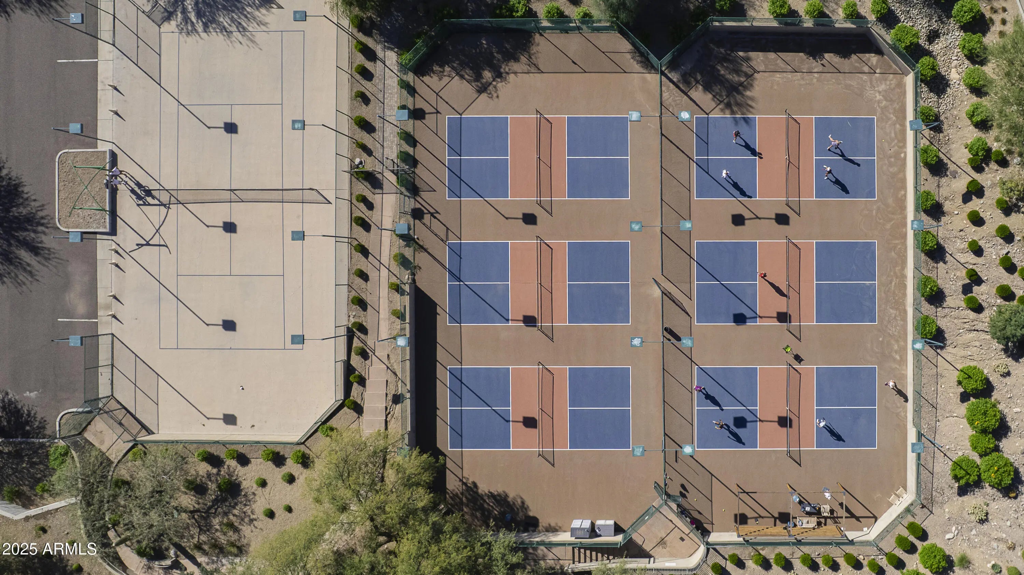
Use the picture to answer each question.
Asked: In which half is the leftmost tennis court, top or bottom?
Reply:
top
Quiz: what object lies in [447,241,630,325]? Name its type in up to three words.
sports court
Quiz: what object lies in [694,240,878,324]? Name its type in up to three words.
sports court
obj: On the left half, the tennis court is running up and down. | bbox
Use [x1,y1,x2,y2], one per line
[159,31,304,350]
